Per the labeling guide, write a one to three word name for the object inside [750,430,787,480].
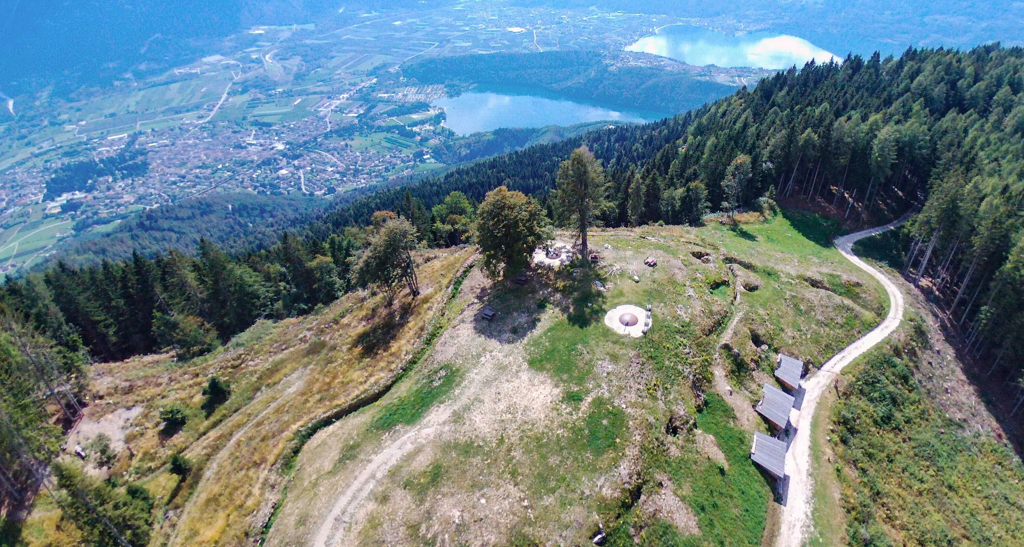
shed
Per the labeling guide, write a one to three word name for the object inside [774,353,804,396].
shed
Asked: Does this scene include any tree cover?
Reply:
Yes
